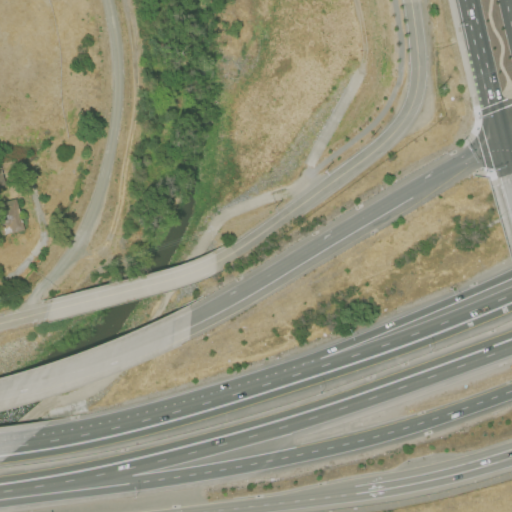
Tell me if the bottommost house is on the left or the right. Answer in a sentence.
You can find the bottommost house on the left side of the picture.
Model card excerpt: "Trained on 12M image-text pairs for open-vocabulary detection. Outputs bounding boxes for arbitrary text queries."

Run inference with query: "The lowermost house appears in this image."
[4,200,24,237]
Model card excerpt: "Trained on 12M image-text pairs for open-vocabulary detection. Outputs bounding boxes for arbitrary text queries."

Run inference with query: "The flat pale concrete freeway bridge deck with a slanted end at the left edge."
[0,419,47,464]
